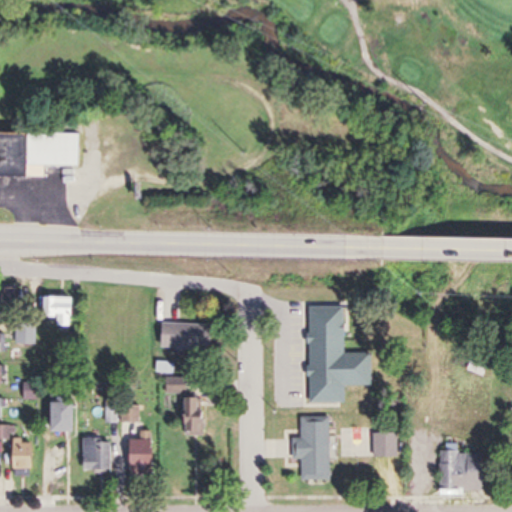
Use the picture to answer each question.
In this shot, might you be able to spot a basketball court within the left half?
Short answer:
No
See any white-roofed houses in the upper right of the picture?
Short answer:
No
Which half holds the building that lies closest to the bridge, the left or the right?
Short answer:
right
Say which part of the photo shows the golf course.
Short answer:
top right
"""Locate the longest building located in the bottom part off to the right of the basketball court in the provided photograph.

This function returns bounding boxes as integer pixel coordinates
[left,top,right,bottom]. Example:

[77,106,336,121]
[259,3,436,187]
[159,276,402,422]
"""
[440,442,468,495]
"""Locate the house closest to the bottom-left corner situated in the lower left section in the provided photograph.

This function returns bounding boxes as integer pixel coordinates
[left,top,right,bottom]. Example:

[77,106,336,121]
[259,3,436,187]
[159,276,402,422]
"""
[11,438,30,477]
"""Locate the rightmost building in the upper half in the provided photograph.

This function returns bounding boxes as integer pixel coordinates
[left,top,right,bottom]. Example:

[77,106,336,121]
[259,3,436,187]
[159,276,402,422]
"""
[26,132,79,177]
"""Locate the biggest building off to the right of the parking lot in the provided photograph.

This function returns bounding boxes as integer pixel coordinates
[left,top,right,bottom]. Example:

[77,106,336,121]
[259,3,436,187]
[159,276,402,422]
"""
[308,306,372,403]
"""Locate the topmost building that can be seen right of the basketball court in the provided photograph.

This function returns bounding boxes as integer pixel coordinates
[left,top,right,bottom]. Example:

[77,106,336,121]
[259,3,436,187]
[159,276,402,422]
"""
[372,432,398,458]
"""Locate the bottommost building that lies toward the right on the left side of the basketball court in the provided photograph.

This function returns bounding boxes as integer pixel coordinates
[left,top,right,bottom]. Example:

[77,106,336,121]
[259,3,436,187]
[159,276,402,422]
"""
[293,416,330,482]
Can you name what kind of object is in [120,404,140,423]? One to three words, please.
building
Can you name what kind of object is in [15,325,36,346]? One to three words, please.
building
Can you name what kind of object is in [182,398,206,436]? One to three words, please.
house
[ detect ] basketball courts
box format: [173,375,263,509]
[340,428,372,458]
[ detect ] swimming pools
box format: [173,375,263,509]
[8,408,19,418]
[91,406,104,418]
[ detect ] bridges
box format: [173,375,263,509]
[382,232,512,263]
